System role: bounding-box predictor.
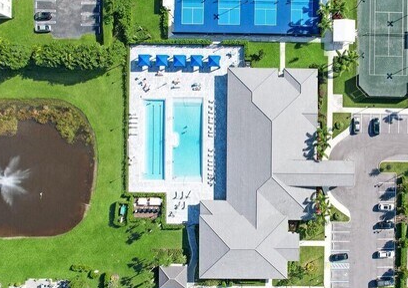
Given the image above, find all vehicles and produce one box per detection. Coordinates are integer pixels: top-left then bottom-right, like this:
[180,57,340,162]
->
[376,221,392,230]
[331,252,347,261]
[34,24,52,32]
[377,251,393,259]
[376,204,393,211]
[36,12,53,20]
[353,116,360,133]
[371,118,379,134]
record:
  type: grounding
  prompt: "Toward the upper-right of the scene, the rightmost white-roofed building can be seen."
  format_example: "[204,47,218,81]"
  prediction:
[332,18,355,43]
